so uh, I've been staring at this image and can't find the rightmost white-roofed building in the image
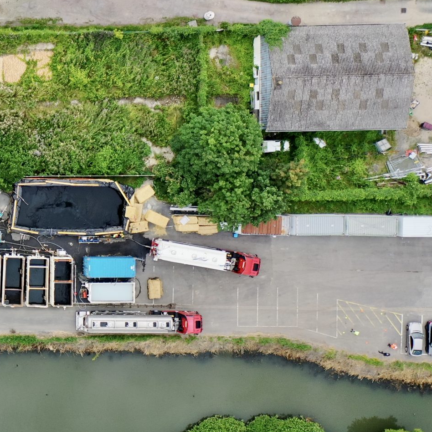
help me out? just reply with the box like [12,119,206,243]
[398,215,432,237]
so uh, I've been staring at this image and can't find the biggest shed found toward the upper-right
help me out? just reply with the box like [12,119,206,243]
[252,24,415,131]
